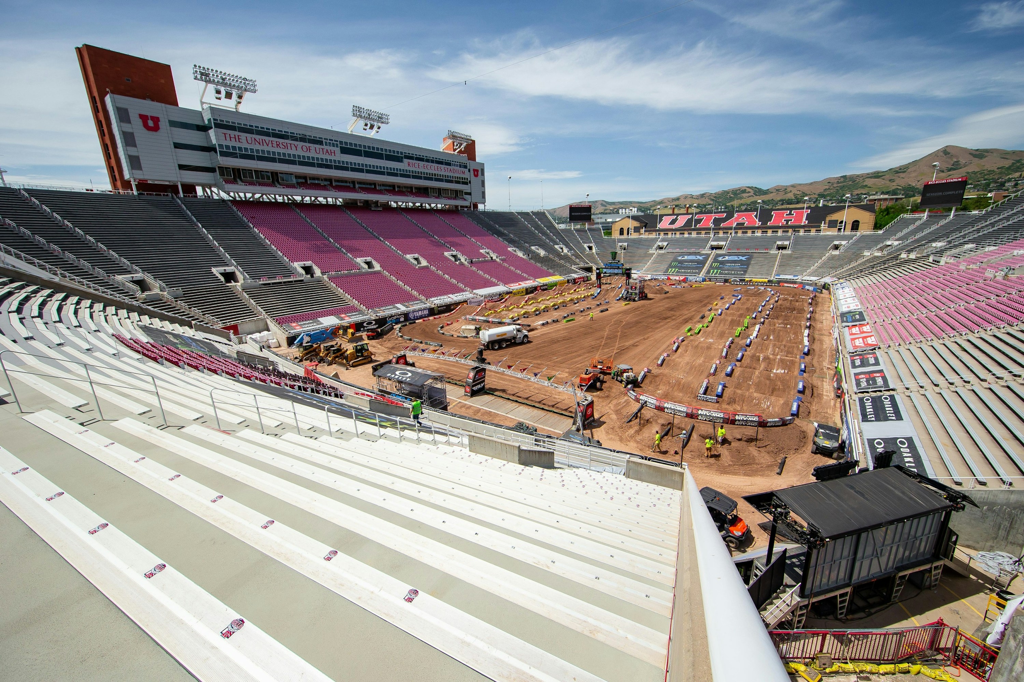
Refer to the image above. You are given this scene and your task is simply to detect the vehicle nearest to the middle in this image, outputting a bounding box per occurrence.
[482,324,538,351]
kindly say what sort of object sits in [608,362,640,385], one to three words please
vehicle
